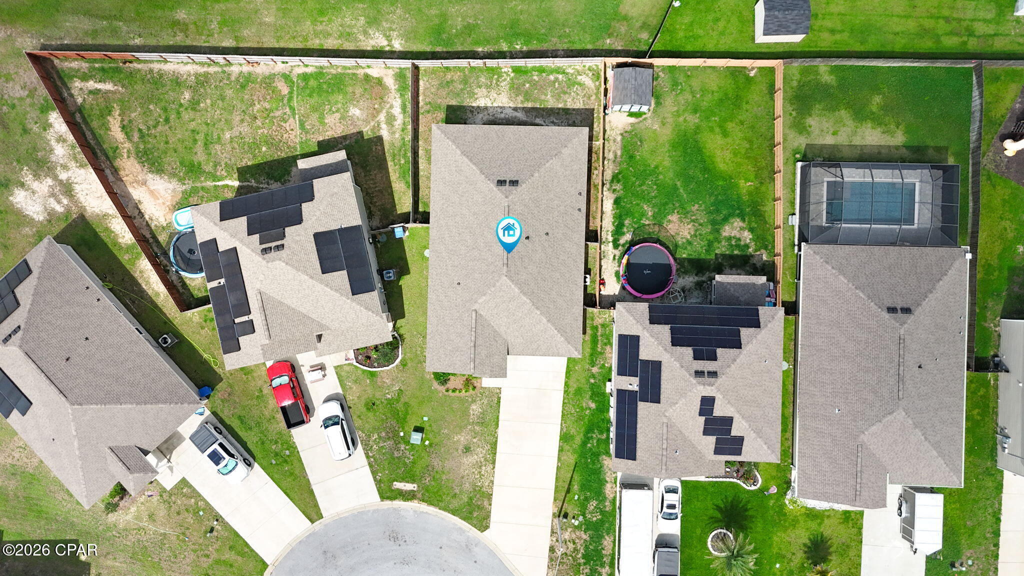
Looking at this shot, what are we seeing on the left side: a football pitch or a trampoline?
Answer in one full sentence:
The one visible on the left side is a trampoline.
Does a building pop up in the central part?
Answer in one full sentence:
Yes, a building shows up in the central part.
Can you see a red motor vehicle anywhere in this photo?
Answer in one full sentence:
Yes, the picture does show a red motor vehicle.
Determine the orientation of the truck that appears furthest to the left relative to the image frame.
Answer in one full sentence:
I'd say the truck that appears furthest to the left is aligned diagonally in the picture.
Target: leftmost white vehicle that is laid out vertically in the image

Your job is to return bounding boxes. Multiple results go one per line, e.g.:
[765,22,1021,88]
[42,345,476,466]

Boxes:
[320,398,355,460]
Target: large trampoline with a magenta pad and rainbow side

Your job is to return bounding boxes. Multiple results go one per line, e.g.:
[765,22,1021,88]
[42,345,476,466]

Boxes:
[620,242,681,298]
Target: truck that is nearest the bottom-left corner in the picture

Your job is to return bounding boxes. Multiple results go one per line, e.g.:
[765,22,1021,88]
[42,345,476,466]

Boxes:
[189,418,255,485]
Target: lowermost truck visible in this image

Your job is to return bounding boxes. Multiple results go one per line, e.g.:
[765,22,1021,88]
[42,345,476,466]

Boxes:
[653,544,680,576]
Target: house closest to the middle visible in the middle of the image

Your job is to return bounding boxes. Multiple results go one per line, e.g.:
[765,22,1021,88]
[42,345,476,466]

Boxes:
[426,123,589,379]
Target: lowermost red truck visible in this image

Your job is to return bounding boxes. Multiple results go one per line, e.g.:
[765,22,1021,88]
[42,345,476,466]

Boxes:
[270,357,311,429]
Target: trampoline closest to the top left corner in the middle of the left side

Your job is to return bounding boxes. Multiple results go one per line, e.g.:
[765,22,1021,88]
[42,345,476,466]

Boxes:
[159,229,205,278]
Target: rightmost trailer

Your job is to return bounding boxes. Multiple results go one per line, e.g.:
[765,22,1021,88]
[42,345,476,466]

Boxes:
[897,488,944,561]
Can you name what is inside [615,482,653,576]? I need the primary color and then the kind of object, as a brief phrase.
white trailer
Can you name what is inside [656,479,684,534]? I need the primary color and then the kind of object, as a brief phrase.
white car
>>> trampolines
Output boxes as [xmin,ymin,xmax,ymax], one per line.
[620,242,681,298]
[159,229,205,278]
